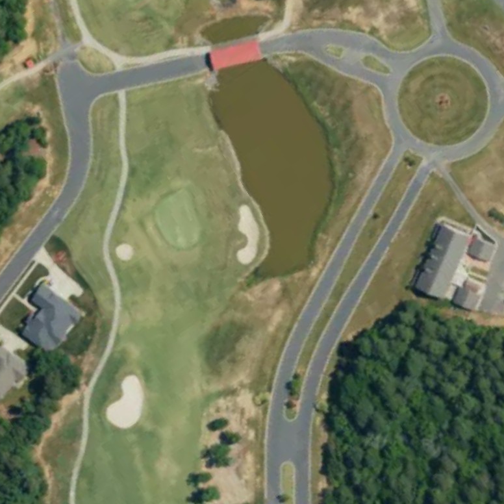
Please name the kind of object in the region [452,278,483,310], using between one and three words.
building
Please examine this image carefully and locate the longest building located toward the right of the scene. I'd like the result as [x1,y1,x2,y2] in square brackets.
[415,222,472,298]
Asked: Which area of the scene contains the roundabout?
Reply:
top right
